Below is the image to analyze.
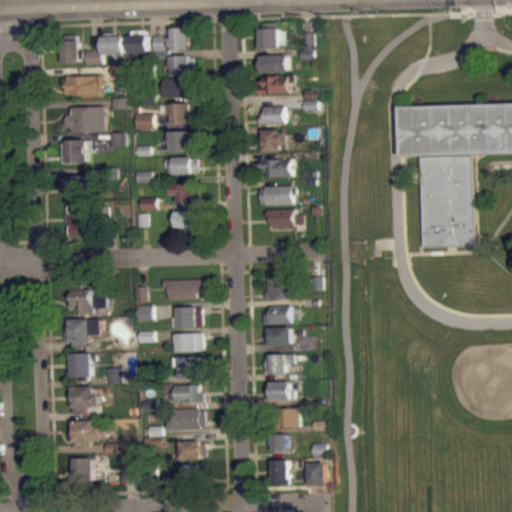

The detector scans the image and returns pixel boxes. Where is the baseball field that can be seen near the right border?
[452,343,512,420]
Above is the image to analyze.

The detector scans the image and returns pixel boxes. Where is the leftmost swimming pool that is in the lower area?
[112,320,134,350]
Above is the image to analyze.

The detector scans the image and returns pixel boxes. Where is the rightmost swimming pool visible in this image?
[308,127,322,140]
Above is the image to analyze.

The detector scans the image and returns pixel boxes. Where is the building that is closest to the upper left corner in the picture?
[62,36,85,63]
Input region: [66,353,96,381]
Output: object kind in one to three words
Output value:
house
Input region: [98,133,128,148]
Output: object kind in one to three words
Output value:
building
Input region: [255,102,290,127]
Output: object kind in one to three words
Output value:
house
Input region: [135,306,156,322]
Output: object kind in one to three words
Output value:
building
